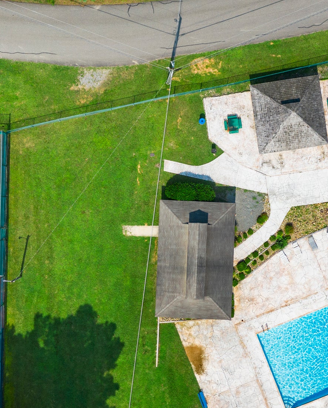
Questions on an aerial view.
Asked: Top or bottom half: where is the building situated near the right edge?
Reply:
top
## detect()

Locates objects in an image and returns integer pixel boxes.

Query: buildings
[155,199,237,321]
[249,74,328,154]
